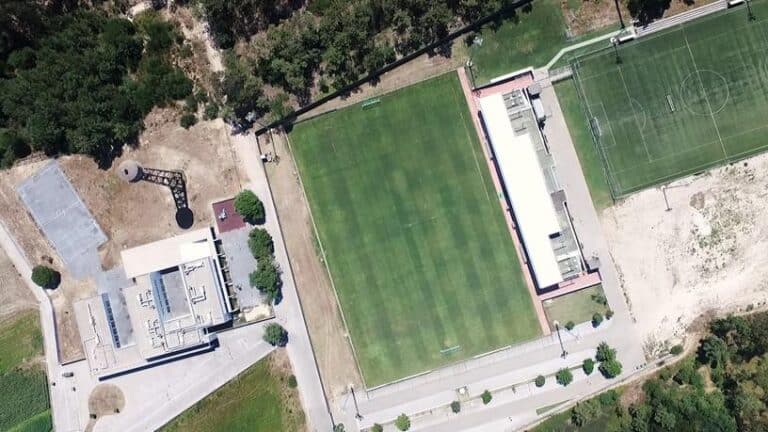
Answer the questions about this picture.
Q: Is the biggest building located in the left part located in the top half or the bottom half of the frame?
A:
bottom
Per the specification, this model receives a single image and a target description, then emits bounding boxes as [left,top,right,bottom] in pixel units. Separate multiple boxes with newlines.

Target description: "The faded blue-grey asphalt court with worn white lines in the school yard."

[16,160,108,280]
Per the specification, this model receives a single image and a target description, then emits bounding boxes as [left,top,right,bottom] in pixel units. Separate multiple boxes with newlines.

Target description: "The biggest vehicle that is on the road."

[535,99,547,116]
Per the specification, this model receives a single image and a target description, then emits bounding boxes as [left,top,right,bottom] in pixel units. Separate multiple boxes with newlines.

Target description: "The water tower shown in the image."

[119,161,188,190]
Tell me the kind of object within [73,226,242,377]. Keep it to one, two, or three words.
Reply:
building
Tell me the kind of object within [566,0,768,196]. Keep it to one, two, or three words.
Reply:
soccer field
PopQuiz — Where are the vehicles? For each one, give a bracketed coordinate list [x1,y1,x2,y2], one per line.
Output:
[62,372,73,377]
[535,99,547,116]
